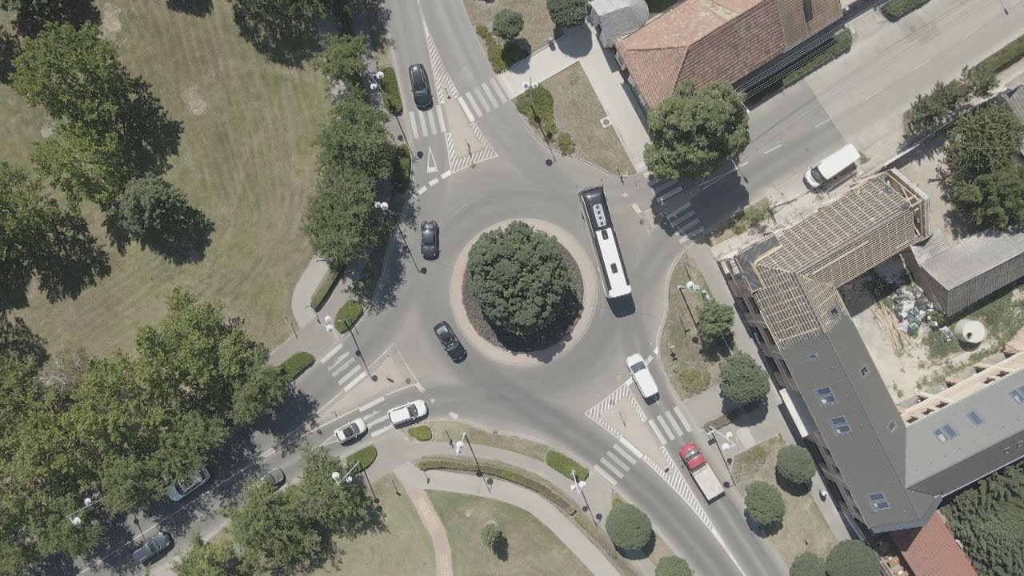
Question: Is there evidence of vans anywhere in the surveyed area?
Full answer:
Yes, there's a van here.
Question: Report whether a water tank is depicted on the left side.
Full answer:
No, I can find no water tank on the left side.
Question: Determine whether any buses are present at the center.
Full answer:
Yes, a bus is visible at the center.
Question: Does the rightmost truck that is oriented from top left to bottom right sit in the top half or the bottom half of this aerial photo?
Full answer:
The rightmost truck that is oriented from top left to bottom right is in the bottom half of the image.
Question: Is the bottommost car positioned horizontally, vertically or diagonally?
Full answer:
From this overhead view, the bottommost car appears to run diagonally.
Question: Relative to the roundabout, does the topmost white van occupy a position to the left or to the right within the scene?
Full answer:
To the right of the roundabout is where the topmost white van appears.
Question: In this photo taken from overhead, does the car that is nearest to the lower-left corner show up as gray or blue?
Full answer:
In this view, the car that is nearest to the lower-left corner is gray.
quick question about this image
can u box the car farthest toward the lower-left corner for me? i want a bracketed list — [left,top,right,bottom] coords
[129,529,175,567]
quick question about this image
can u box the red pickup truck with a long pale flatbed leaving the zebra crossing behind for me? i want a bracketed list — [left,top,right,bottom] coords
[680,444,725,501]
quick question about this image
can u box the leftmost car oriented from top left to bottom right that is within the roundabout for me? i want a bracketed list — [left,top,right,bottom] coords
[432,319,468,364]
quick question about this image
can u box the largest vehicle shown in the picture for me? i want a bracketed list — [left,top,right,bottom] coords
[573,178,631,301]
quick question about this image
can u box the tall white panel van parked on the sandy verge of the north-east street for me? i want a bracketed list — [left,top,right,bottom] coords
[802,141,866,186]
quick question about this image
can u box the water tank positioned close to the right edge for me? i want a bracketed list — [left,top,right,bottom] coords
[949,316,985,345]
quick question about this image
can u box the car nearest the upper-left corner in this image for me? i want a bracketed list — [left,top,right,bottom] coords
[408,62,434,113]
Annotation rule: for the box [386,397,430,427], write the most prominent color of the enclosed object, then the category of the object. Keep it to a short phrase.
white car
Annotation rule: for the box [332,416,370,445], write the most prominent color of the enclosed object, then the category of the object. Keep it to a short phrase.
white car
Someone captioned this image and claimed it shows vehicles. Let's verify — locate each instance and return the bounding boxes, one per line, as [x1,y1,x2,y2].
[408,62,434,113]
[169,466,213,502]
[626,352,661,401]
[680,444,725,501]
[386,397,430,427]
[332,416,370,445]
[802,141,866,186]
[432,319,468,364]
[129,529,175,567]
[419,219,440,260]
[573,178,631,301]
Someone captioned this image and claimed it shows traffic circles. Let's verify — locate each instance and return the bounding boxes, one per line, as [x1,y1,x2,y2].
[387,156,661,430]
